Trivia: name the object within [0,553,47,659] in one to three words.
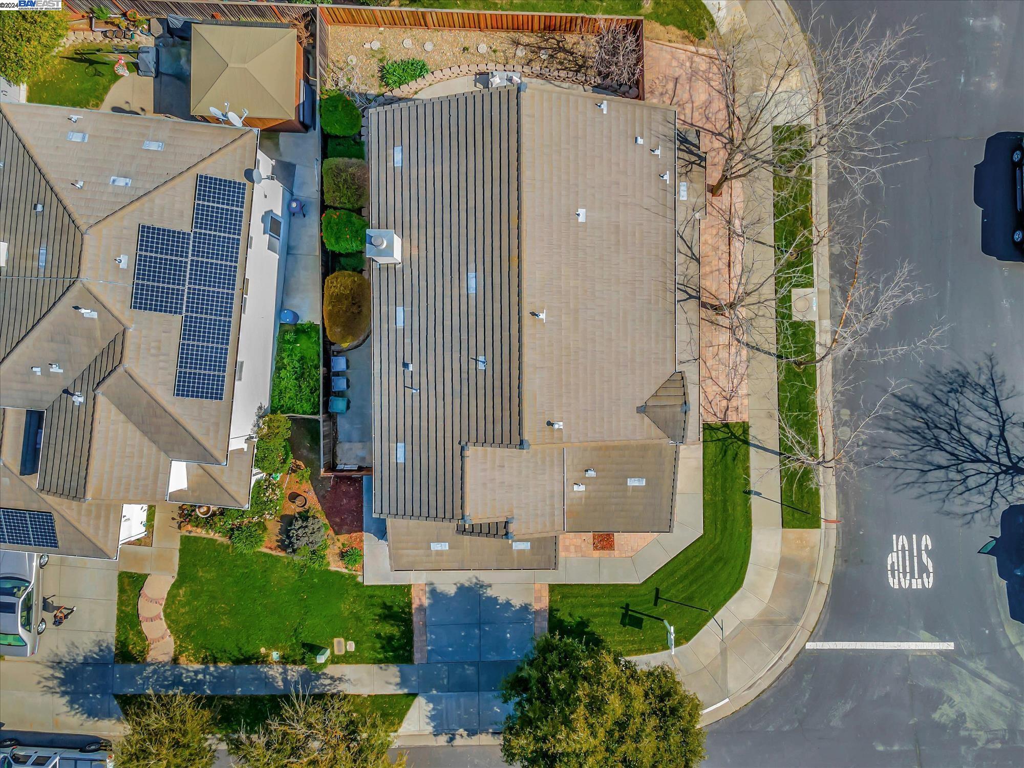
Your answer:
car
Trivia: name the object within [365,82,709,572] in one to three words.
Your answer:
house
